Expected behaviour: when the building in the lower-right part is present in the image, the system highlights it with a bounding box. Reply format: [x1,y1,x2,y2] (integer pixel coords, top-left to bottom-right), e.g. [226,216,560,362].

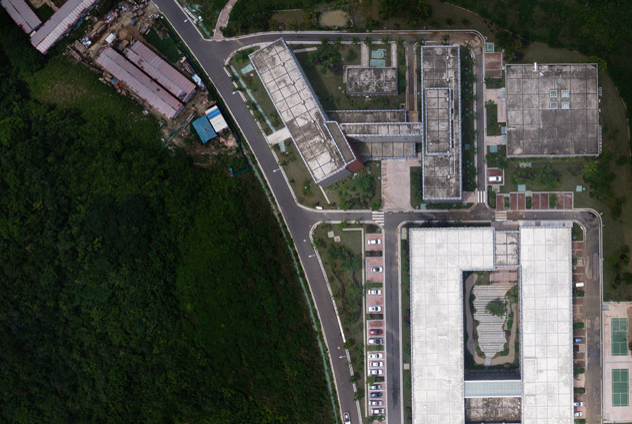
[409,220,574,424]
